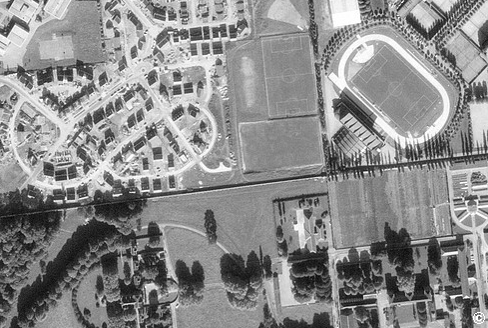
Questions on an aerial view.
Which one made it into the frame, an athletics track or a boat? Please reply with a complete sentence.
I can see an athletics track in this picture.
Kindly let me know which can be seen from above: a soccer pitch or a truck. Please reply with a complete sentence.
This aerial view contains a soccer pitch.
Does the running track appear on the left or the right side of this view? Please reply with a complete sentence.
The running track is on the right side of the image.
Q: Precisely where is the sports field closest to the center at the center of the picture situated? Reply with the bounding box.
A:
[239,117,323,171]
